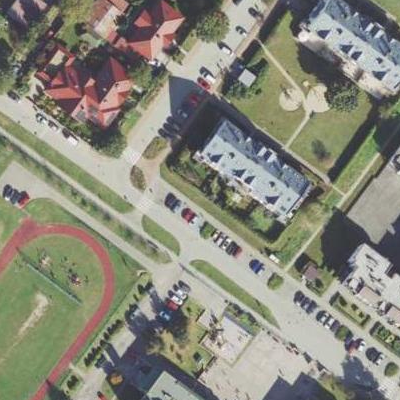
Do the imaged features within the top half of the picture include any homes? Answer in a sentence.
Yes, looking within the top half of the picture, one can make out a home.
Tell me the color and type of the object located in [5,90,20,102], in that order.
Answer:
gray vehicle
